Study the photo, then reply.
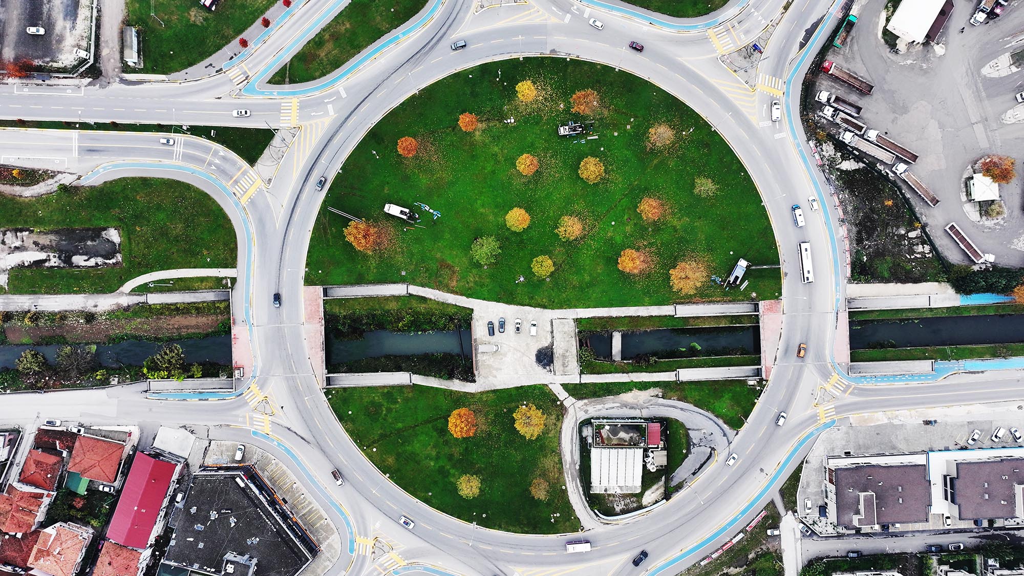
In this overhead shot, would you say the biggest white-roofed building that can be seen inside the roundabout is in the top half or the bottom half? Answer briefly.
bottom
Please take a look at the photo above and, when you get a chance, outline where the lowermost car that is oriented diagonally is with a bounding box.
[632,548,649,566]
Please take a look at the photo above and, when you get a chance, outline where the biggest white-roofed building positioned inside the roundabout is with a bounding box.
[589,445,643,493]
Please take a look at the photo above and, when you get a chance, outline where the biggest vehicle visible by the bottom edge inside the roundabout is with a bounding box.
[566,541,592,553]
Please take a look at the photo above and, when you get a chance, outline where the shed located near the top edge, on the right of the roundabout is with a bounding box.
[875,0,956,50]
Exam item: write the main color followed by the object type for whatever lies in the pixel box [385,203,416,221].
white vehicle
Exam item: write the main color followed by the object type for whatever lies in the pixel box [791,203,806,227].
white vehicle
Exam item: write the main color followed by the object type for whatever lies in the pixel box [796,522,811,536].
white car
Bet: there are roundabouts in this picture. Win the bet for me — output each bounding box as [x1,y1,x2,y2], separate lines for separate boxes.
[250,0,849,576]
